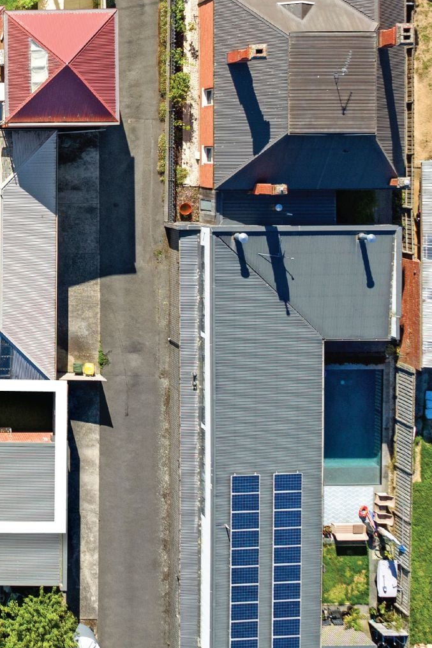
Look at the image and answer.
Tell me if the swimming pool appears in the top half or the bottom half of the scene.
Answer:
bottom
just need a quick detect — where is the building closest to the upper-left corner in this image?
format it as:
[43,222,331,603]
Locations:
[0,1,121,124]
